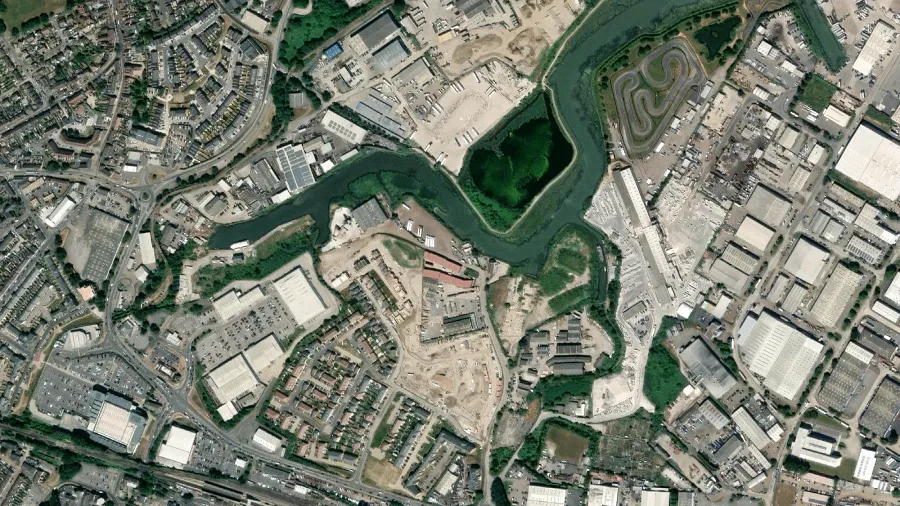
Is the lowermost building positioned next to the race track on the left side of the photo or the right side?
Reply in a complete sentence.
The lowermost building positioned next to the race track appears in the right half of the scene.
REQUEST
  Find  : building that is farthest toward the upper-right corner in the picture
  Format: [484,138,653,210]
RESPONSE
[853,20,896,76]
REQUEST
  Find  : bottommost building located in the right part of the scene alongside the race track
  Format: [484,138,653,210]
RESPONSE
[613,168,676,307]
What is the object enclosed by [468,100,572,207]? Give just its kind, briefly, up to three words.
pond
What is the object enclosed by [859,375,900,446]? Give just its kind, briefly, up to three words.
building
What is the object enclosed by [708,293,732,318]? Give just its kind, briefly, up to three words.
shed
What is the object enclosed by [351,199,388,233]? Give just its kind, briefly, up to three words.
building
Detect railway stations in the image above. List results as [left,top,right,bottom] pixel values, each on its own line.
[163,472,261,506]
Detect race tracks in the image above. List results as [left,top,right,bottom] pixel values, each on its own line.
[612,38,705,153]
